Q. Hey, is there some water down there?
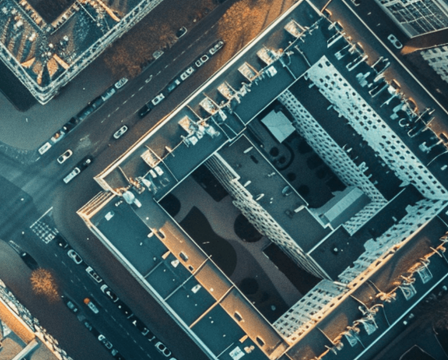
No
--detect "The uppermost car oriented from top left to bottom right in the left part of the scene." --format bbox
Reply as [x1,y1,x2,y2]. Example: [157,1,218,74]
[55,234,70,250]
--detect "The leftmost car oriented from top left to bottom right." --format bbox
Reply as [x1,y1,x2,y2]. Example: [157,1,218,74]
[22,253,37,270]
